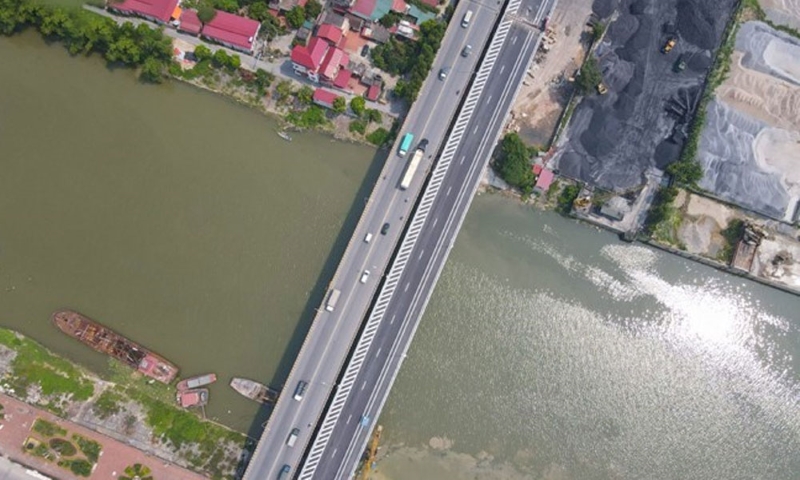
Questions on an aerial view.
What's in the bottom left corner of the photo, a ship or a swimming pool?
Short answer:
ship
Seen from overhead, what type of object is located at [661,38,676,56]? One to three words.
work vehicle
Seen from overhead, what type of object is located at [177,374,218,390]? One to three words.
boat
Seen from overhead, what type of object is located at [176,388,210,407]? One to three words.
boat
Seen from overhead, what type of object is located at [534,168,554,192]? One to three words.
shed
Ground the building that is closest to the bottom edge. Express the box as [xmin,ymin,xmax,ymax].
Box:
[600,195,630,220]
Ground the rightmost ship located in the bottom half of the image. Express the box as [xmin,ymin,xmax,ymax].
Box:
[230,379,279,406]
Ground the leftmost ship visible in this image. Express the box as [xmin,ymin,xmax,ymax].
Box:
[55,313,178,386]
